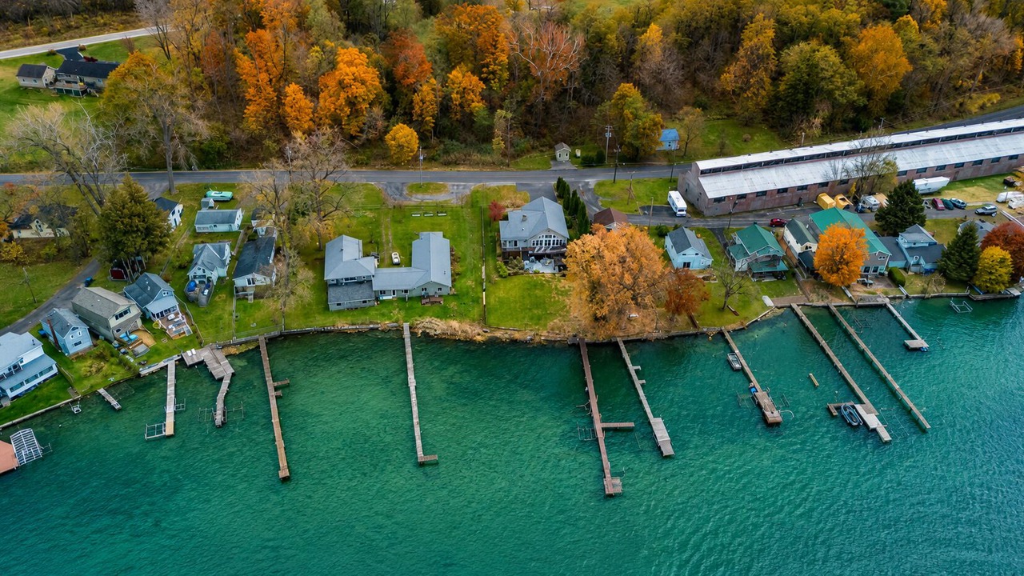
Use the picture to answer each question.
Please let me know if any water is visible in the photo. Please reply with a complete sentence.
Yes, some water is visible.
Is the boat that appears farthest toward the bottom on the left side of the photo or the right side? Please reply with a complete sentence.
The boat that appears farthest toward the bottom sits on the right side.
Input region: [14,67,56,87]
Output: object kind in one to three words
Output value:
building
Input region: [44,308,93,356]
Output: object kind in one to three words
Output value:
house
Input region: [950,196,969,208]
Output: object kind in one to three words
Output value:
vehicle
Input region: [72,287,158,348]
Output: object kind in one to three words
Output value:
house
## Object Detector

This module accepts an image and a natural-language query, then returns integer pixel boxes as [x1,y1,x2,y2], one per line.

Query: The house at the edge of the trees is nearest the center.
[493,196,569,274]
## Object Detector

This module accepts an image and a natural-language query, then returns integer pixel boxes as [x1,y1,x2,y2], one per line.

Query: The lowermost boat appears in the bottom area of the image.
[840,408,866,428]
